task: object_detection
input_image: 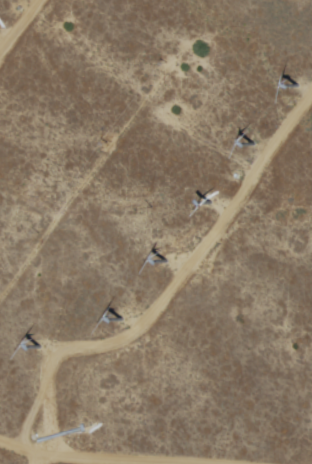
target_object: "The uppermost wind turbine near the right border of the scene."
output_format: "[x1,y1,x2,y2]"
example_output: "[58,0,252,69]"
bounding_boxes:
[272,73,300,101]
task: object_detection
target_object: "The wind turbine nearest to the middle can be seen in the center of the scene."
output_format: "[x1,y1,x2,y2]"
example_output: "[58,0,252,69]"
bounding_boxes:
[138,252,168,276]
